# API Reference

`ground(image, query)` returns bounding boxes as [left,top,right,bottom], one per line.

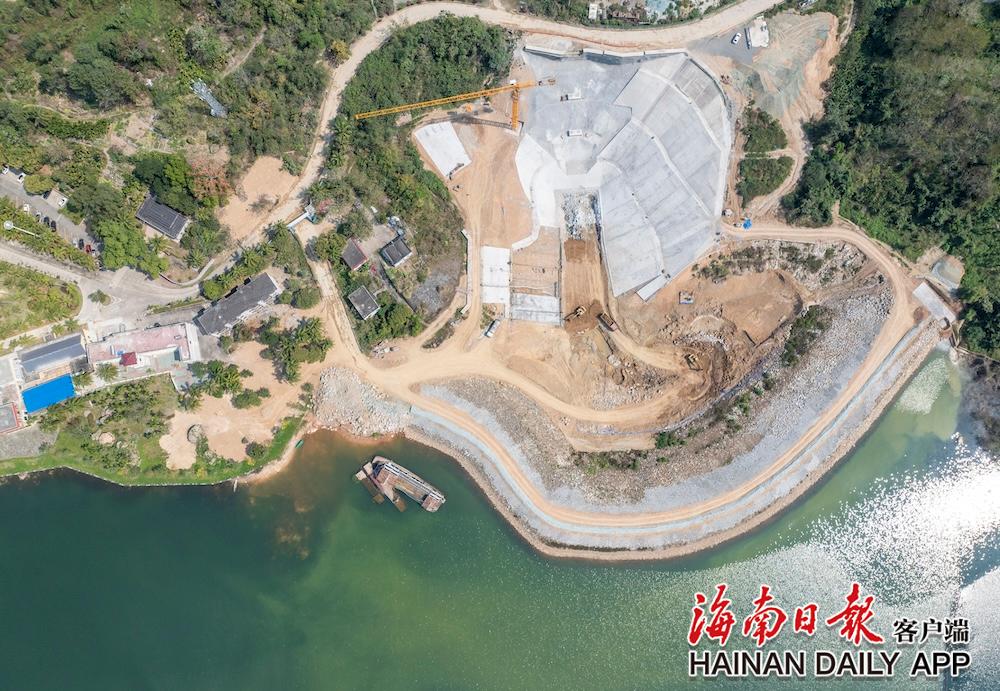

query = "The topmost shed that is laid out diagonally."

[191,81,229,121]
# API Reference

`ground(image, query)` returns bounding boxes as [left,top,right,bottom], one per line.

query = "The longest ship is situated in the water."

[355,456,445,511]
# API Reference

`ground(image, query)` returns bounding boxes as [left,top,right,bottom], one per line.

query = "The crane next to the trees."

[354,74,562,136]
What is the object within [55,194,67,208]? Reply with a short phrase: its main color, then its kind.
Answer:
white vehicle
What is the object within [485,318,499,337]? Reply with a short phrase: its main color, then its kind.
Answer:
white vehicle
